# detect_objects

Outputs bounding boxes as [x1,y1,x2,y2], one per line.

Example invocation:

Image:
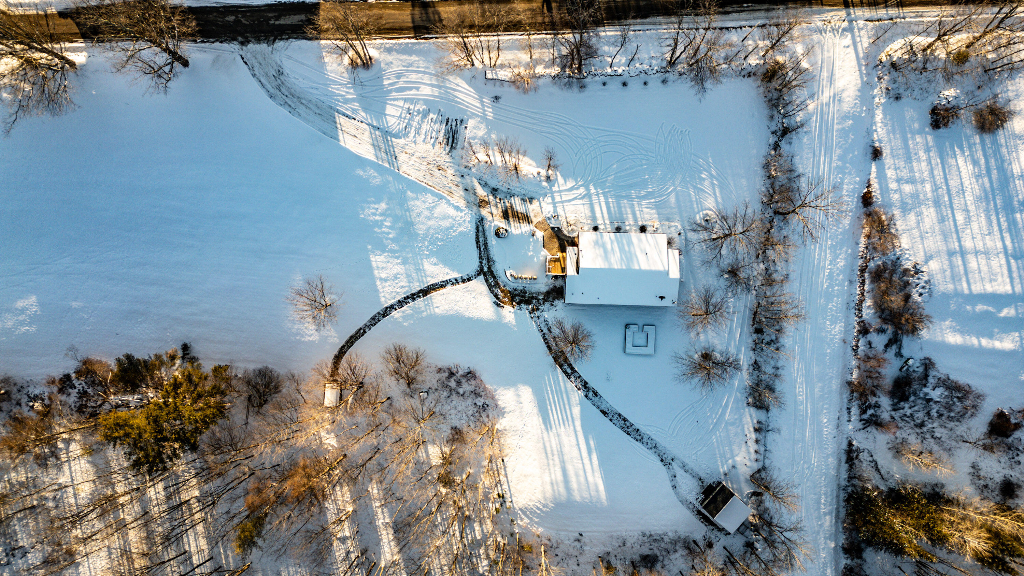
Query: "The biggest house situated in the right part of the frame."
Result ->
[564,231,681,307]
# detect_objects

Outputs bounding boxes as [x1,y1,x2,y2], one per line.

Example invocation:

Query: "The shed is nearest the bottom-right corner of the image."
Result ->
[692,476,753,535]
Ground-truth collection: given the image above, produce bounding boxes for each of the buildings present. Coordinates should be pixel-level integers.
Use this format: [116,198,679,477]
[564,231,681,307]
[692,476,753,535]
[324,384,340,406]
